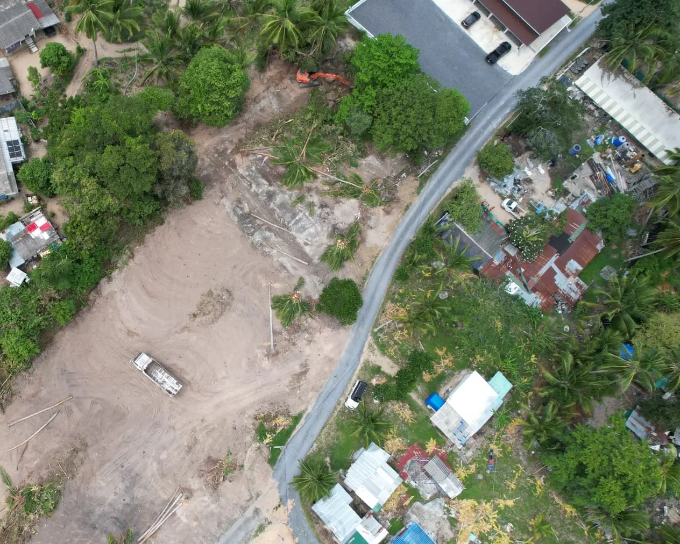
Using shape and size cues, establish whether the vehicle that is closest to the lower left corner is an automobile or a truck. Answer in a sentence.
The vehicle that is closest to the lower left corner can be classified as a truck.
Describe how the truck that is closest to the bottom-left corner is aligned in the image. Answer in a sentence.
The truck that is closest to the bottom-left corner runs diagonally in the image.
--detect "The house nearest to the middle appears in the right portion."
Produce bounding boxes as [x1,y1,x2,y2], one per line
[435,206,510,271]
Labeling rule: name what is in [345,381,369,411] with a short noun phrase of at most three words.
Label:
car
